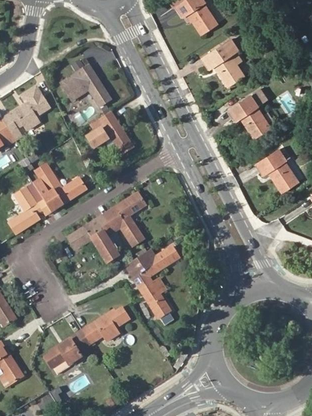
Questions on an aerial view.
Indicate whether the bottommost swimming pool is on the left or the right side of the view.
left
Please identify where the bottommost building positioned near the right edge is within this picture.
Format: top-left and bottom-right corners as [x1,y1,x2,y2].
[254,150,299,194]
